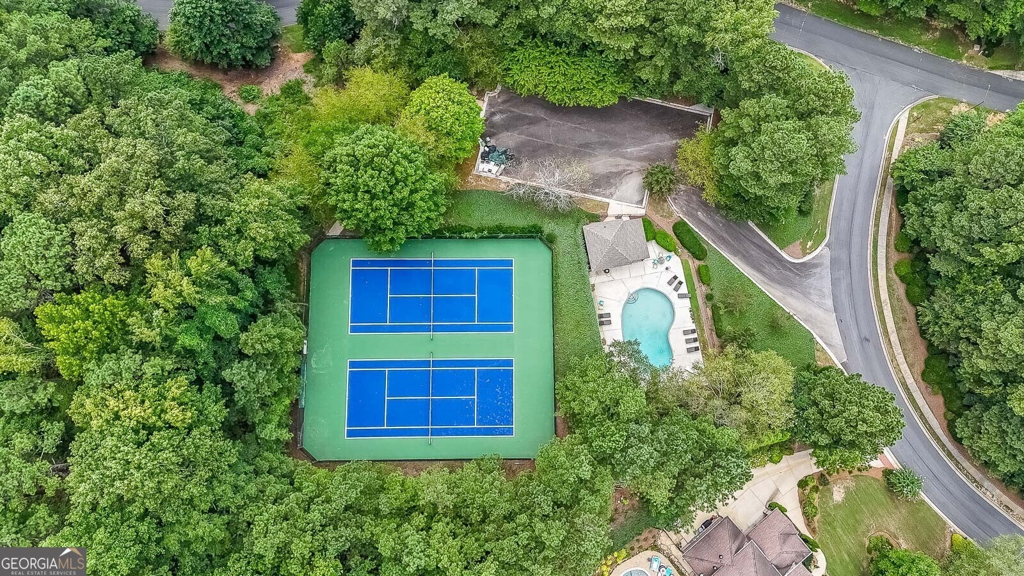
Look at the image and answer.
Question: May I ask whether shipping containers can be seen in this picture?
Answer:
No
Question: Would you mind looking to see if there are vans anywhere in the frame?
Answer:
No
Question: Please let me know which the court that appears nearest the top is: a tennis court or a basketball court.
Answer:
tennis court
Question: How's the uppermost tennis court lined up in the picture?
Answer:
horizontally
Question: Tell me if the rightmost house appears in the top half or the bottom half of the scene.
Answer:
bottom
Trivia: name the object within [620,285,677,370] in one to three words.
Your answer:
swimming pool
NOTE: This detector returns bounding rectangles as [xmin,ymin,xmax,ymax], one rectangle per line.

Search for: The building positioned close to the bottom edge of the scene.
[681,508,812,576]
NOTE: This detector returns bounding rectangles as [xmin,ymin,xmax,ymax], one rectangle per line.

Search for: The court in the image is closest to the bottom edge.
[345,358,515,439]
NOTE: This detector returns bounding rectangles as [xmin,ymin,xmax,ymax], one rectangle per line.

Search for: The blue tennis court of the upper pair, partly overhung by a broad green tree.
[348,258,515,334]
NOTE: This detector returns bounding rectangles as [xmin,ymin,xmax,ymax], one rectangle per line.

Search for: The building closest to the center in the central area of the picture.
[583,218,649,271]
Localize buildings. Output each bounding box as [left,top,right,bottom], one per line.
[583,218,649,271]
[681,508,812,576]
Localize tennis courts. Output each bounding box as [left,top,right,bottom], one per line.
[345,358,515,439]
[348,258,515,334]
